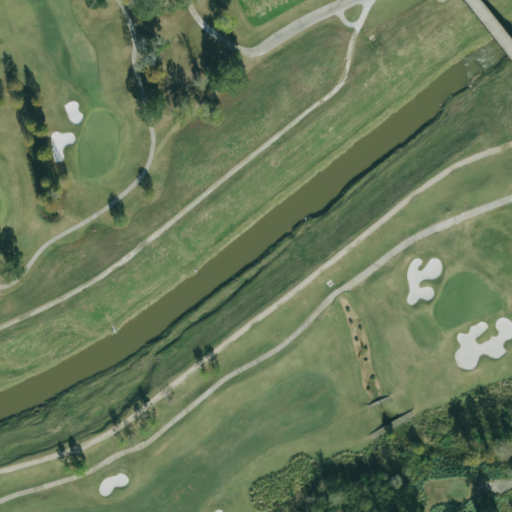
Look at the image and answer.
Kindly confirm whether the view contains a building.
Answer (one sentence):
No, the scene contains no building.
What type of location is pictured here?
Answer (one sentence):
The picture captures a golf course.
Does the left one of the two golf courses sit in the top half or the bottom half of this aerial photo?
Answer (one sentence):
You can find the left one of the two golf courses in the top half.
